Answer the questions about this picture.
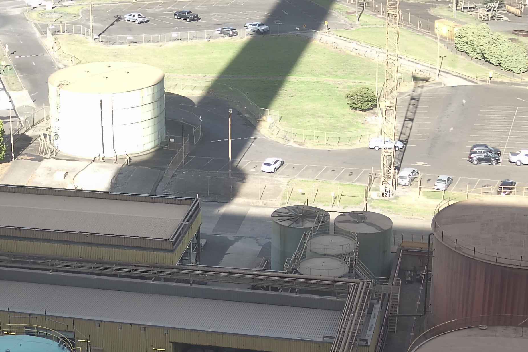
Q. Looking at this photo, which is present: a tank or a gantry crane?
tank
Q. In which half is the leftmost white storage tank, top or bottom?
top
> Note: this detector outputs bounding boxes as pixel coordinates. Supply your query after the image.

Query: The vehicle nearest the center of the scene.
[262,158,283,172]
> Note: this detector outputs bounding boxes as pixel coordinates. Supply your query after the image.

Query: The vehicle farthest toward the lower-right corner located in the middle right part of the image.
[498,178,517,195]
